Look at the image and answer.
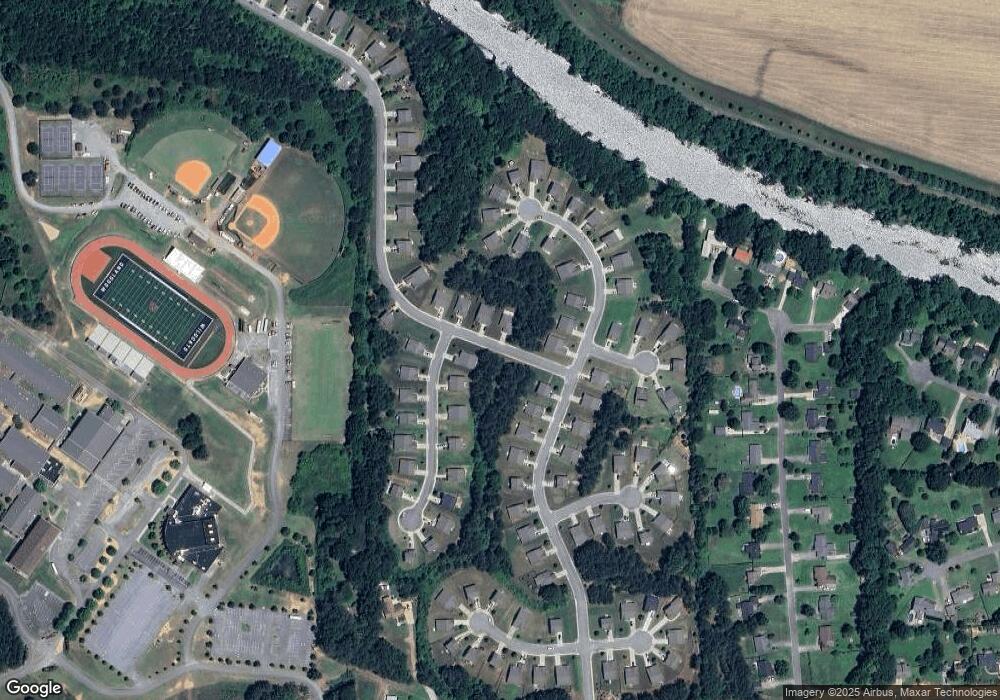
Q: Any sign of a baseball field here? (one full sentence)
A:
Yes, there's a baseball field here.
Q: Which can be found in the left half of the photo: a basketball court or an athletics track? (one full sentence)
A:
The one visible in the left half of the photo is an athletics track.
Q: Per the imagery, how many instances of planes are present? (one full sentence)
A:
There are no planes in this view.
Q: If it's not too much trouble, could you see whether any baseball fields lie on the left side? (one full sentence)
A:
Yes, the scene does show a baseball field on the left side.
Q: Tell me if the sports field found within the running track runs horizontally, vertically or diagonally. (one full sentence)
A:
The sports field found within the running track has been laid out diagonally relative to the frame.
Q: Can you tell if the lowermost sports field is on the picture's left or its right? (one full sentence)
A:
The lowermost sports field is on the left side of the image.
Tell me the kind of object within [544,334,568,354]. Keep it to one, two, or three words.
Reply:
house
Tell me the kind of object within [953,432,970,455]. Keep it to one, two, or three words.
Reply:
swimming pool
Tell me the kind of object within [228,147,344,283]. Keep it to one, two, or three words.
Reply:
baseball field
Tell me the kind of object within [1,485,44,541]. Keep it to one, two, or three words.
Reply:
building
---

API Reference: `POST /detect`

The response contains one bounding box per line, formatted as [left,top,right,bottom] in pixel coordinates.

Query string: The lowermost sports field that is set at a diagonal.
[94,254,213,360]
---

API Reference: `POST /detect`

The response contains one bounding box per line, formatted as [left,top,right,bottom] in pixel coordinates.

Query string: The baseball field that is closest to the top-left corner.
[128,111,240,195]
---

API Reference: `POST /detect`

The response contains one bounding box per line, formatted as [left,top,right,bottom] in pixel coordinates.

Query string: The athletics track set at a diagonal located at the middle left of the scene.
[71,236,235,379]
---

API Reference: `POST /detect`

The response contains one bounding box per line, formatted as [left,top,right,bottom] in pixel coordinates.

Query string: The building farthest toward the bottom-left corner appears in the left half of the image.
[8,517,62,578]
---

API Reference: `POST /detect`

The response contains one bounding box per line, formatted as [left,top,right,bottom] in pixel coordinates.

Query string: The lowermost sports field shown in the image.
[291,318,350,441]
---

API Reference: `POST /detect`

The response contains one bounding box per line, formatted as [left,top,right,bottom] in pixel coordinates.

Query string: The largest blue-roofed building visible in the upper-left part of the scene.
[257,138,282,167]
